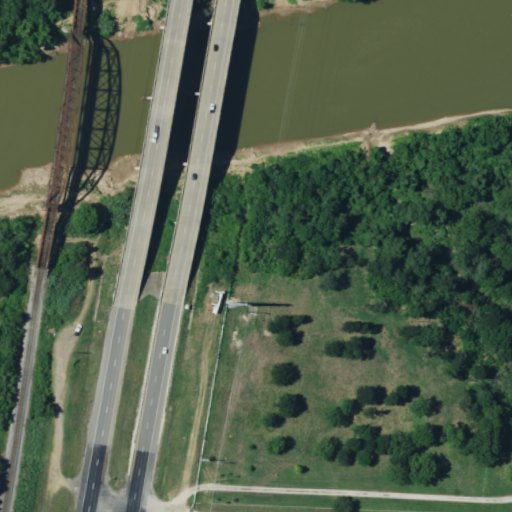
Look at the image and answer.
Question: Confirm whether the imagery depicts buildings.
No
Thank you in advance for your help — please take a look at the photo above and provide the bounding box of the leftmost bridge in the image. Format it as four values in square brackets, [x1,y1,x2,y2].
[36,0,88,280]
